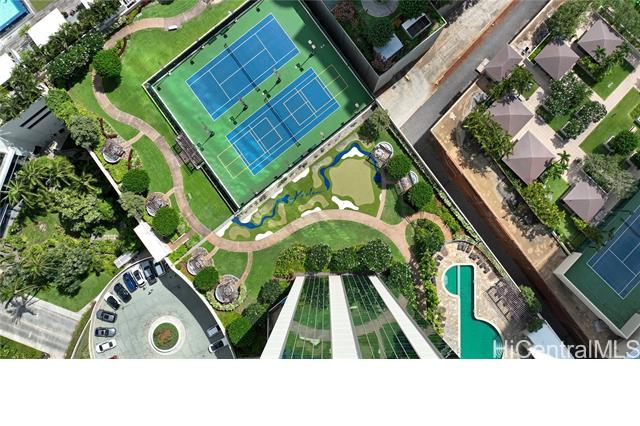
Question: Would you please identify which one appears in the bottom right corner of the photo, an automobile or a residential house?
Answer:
residential house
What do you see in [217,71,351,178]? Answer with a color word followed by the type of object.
blue tennis court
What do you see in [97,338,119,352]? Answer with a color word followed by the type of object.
white car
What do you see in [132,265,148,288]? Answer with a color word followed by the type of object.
white car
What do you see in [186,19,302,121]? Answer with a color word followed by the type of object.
blue tennis court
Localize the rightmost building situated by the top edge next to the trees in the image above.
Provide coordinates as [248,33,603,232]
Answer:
[571,18,624,63]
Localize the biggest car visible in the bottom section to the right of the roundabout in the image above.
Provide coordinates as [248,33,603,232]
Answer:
[207,338,227,354]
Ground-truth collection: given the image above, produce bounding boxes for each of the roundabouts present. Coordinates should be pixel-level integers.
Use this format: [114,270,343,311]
[148,318,184,355]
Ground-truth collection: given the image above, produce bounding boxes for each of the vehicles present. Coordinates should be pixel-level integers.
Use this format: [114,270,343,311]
[132,265,148,288]
[97,338,119,352]
[102,291,123,312]
[121,270,141,294]
[96,309,119,322]
[207,338,227,354]
[96,327,117,338]
[112,282,134,304]
[154,257,168,277]
[139,257,158,285]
